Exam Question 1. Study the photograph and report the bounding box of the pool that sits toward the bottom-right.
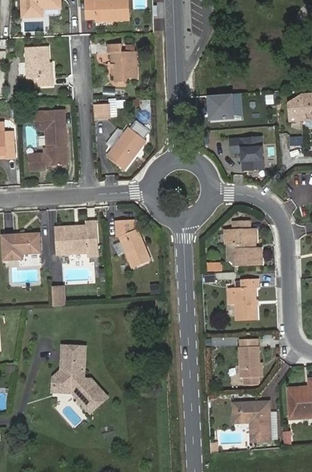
[220,431,243,444]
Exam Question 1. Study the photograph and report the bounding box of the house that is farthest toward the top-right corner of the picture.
[288,93,312,122]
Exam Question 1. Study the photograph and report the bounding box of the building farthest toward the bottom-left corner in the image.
[50,344,110,414]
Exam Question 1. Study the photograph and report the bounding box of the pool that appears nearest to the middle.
[65,267,91,282]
